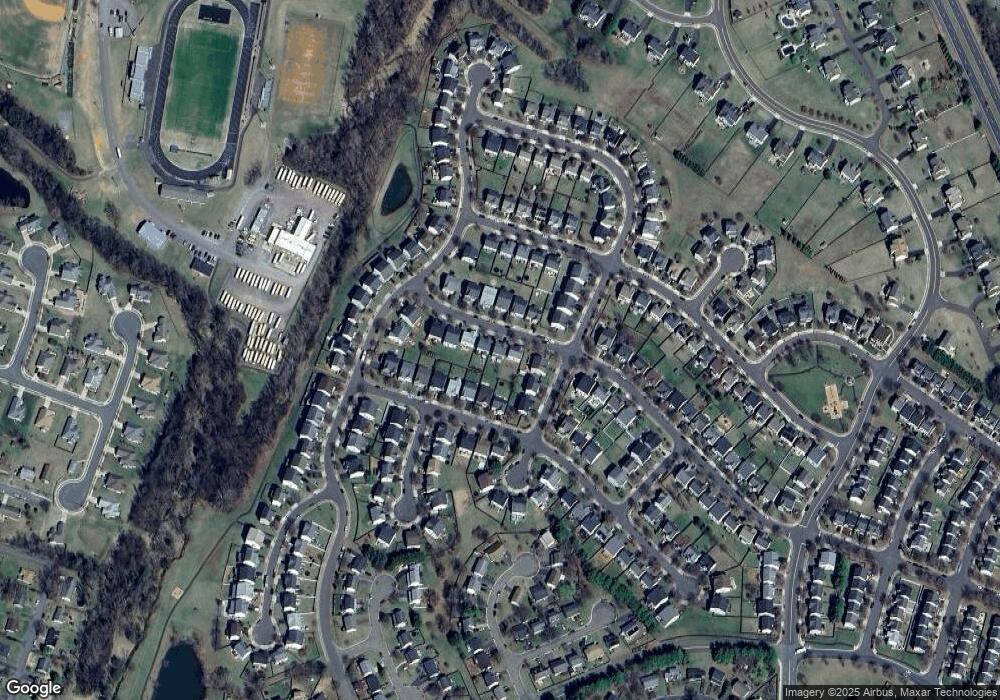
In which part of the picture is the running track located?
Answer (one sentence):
Look in the top left portion of the view to spot the running track.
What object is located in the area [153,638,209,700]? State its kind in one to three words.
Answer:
pond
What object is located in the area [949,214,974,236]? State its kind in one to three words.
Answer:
house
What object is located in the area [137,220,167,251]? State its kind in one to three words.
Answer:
building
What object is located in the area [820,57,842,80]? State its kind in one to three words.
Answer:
house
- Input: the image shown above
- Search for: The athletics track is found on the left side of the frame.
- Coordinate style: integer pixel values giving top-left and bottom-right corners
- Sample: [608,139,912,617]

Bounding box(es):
[146,0,260,185]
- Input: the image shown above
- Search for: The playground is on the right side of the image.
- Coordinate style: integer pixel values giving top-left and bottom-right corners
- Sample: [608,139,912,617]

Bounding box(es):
[822,384,849,420]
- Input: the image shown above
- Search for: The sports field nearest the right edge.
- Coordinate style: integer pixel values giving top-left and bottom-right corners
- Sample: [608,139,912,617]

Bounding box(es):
[165,22,241,139]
